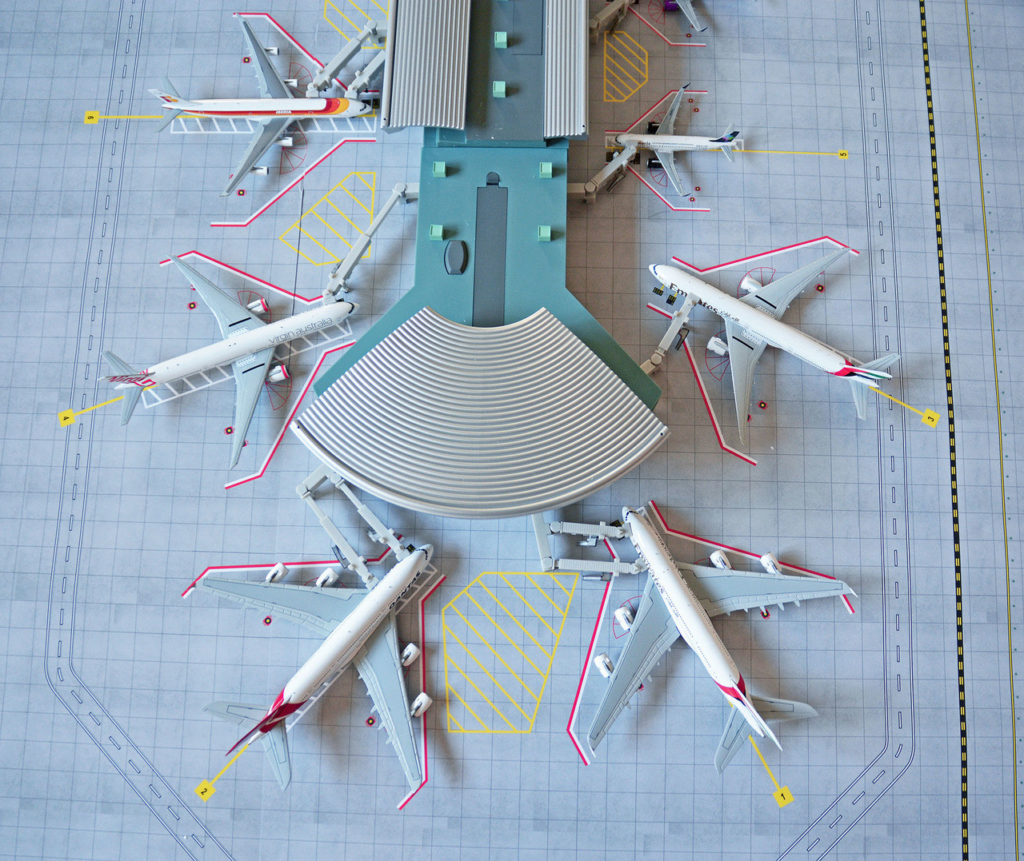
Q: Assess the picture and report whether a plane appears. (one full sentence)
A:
Yes, the picture does show a plane.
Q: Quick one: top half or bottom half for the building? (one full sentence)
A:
You can find the building in the top half.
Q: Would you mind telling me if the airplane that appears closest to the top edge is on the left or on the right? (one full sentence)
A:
The airplane that appears closest to the top edge sits on the right side.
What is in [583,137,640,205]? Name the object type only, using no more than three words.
jet bridge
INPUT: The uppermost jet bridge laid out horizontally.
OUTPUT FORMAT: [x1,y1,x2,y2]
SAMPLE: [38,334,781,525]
[548,519,629,547]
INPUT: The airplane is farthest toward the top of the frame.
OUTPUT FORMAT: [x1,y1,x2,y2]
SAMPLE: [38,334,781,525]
[665,0,707,31]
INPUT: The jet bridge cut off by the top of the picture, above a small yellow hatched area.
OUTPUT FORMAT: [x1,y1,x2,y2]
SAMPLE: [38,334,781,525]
[589,0,634,45]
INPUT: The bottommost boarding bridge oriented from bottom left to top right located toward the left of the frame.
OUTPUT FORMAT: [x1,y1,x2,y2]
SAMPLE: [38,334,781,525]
[321,182,410,308]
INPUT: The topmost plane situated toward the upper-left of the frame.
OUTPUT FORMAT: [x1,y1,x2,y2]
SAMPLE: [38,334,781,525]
[148,9,372,196]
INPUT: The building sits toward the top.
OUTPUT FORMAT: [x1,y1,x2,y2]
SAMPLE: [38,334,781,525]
[292,0,670,568]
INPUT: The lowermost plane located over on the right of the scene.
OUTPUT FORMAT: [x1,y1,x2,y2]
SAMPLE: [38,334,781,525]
[589,509,858,769]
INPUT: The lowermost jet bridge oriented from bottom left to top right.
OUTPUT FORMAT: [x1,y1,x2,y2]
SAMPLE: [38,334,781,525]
[649,291,701,372]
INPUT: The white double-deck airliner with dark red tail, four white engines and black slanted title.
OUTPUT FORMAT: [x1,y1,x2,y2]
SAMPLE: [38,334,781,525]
[199,545,434,791]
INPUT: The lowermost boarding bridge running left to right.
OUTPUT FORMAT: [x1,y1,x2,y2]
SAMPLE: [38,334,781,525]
[540,555,648,581]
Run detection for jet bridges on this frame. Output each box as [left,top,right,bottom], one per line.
[649,291,701,372]
[344,46,386,103]
[306,18,382,101]
[321,182,410,308]
[540,555,648,581]
[548,519,629,547]
[583,137,640,205]
[296,483,382,592]
[589,0,634,45]
[329,472,412,562]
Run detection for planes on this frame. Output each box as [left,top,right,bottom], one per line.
[97,254,360,468]
[665,0,707,31]
[199,545,434,791]
[148,9,372,196]
[589,509,858,769]
[612,81,739,195]
[649,245,901,445]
